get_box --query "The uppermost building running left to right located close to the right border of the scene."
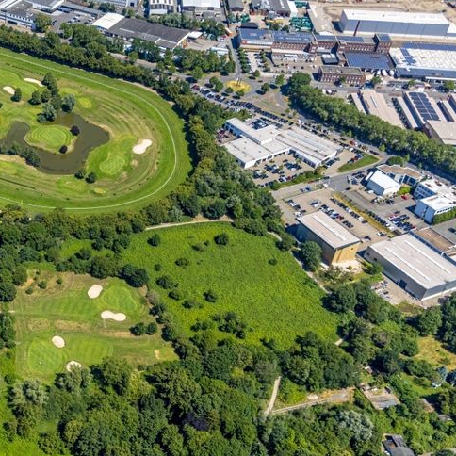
[339,9,450,39]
